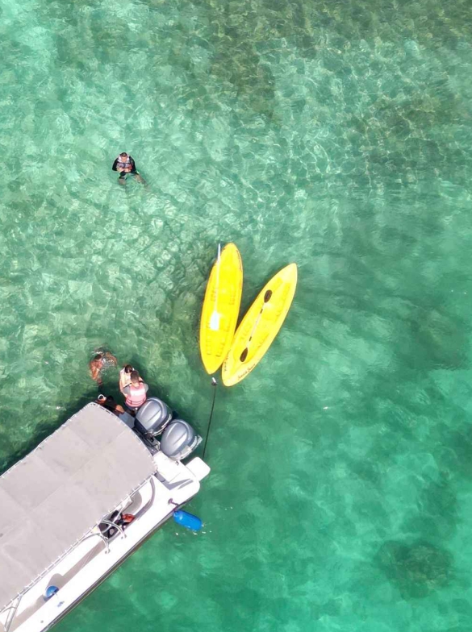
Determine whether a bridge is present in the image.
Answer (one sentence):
No, no bridge is visible in the scene.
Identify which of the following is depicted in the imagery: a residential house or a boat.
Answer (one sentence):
This aerial view contains a boat.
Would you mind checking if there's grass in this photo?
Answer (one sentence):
No, the picture contains no grass.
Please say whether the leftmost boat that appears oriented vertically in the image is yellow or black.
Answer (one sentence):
The leftmost boat that appears oriented vertically looks yellow in the image.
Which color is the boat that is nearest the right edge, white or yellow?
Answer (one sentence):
From above, the boat that is nearest the right edge appears yellow.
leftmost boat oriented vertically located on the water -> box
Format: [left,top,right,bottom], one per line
[200,241,245,374]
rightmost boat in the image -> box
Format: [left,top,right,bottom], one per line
[225,261,300,387]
